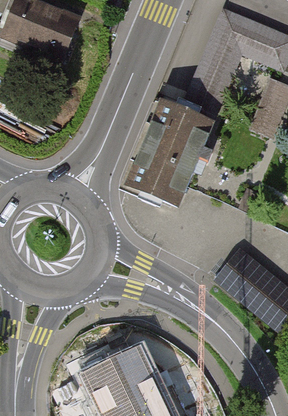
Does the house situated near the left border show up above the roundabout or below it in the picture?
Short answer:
above it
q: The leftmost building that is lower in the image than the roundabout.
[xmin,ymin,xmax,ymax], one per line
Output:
[82,340,181,416]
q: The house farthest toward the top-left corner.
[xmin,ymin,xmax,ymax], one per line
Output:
[0,0,82,65]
